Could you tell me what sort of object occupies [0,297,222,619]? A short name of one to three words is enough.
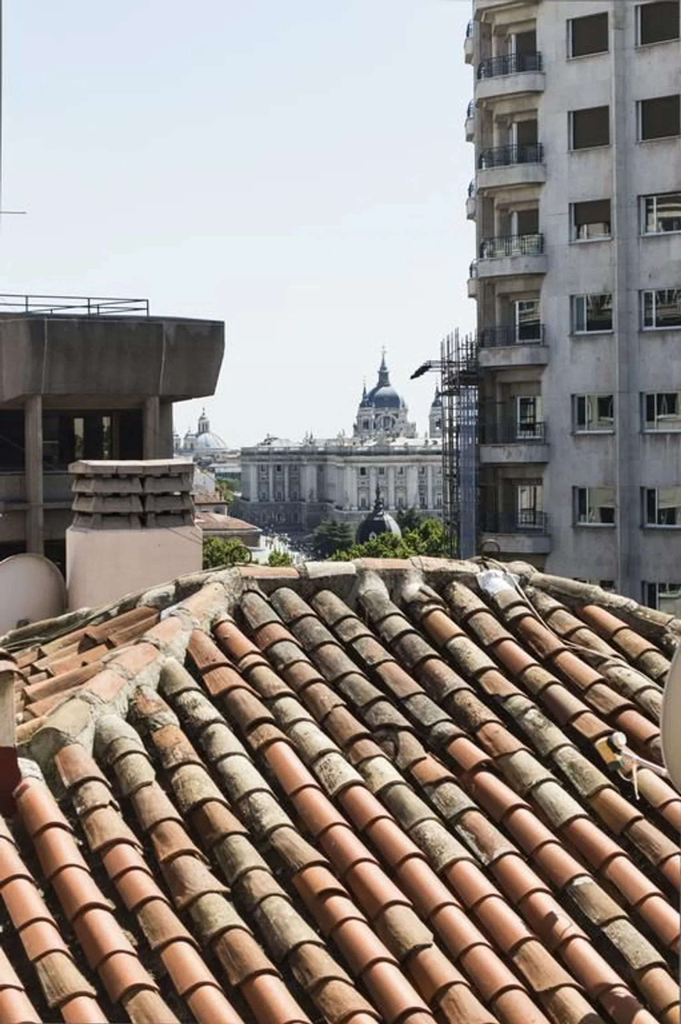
building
